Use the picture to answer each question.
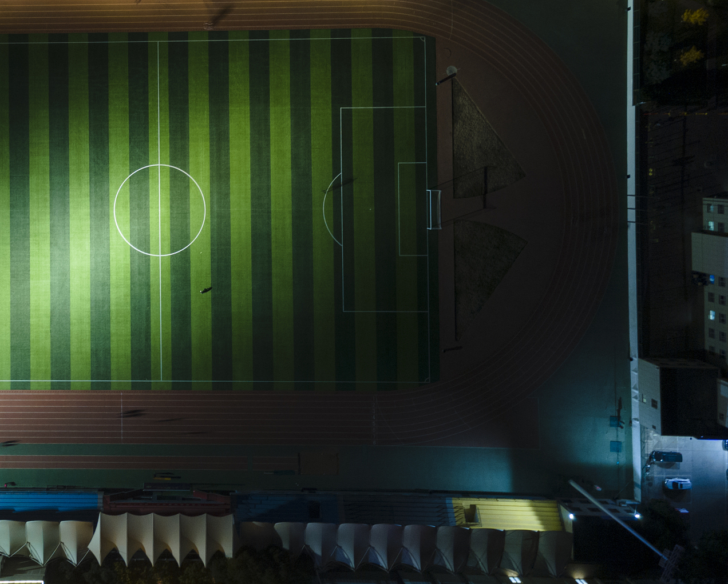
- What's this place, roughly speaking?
sports ground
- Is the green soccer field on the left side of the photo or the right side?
left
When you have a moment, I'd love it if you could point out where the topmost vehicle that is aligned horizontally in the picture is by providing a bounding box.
[651,451,679,464]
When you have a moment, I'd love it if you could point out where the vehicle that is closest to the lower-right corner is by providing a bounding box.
[665,479,691,491]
